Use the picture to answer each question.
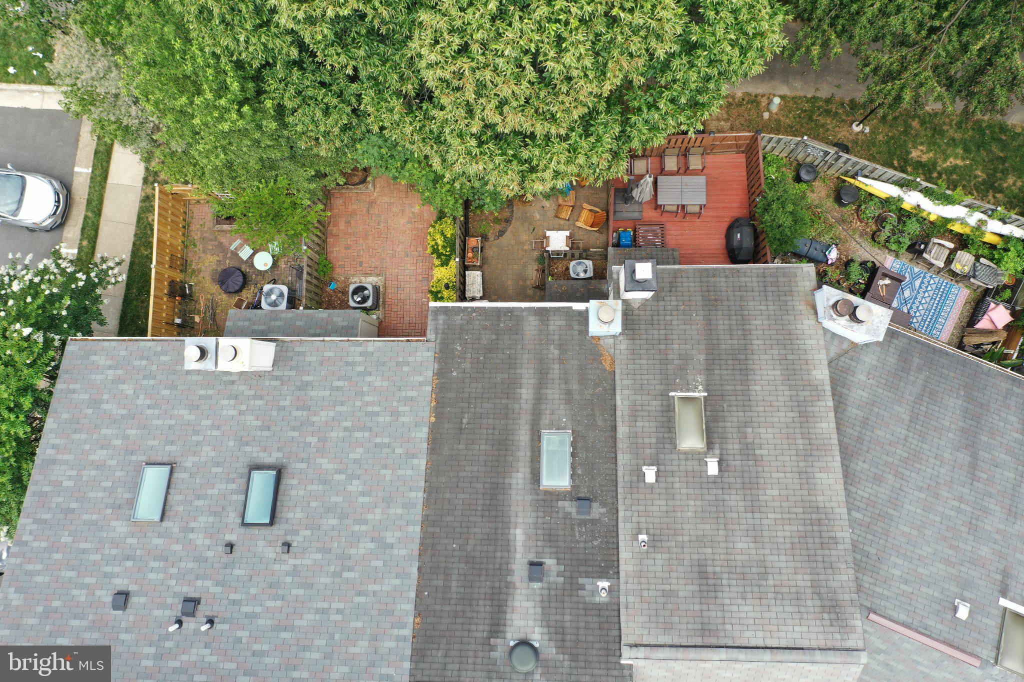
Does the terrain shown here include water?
No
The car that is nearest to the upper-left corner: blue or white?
white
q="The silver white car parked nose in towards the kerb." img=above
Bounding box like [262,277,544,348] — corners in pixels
[0,165,71,229]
